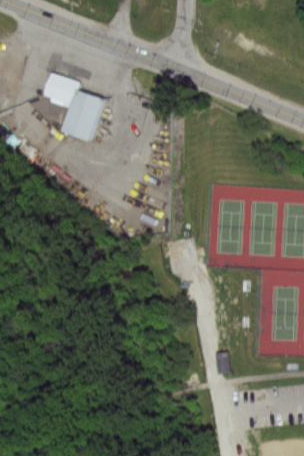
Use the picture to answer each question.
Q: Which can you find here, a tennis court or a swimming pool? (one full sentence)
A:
Of the two, only a tennis court appears.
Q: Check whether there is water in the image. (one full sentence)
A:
No, the picture contains no water.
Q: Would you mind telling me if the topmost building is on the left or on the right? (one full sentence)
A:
The topmost building is on the left side of the image.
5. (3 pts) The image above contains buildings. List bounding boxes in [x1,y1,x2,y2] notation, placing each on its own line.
[218,351,230,374]
[43,72,81,108]
[62,90,106,142]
